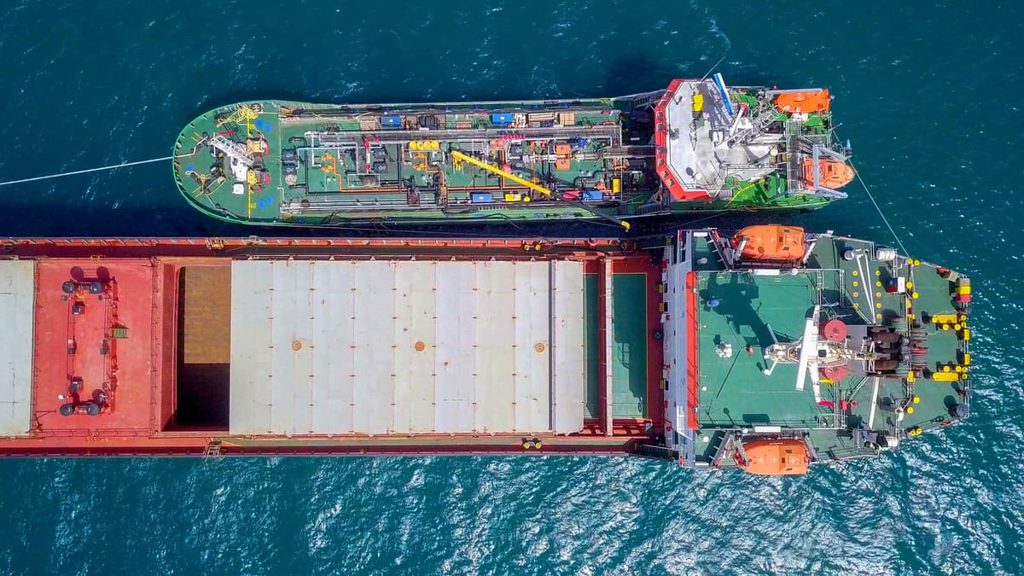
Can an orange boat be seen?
Yes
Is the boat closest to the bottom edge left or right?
right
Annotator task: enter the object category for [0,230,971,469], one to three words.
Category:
ship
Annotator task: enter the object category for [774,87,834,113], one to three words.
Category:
boat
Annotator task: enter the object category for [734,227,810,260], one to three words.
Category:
boat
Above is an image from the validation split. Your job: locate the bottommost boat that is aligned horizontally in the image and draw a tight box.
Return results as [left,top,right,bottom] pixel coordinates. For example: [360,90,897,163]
[737,438,814,472]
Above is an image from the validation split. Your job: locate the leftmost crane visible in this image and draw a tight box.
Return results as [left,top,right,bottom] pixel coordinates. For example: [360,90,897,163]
[450,148,632,233]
